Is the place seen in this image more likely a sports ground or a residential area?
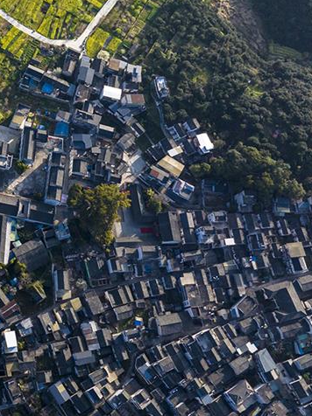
residential area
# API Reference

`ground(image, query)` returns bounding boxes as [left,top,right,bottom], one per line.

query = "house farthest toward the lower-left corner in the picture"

[0,375,23,400]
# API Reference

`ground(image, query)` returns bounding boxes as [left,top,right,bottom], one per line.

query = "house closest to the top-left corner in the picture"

[21,65,44,85]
